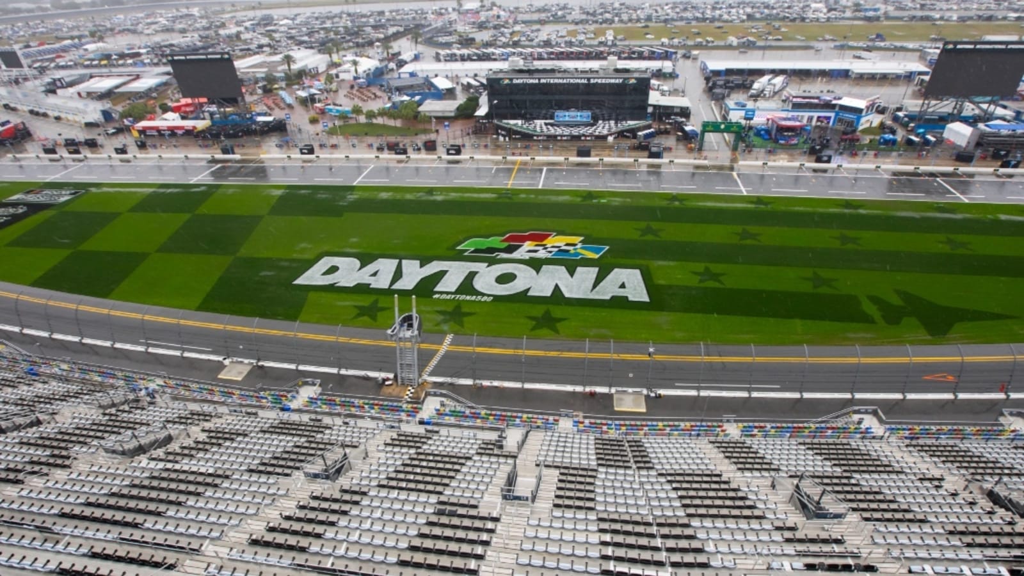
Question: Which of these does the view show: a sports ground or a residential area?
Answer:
sports ground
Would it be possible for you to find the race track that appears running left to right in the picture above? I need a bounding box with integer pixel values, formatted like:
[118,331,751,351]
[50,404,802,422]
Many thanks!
[0,286,1024,393]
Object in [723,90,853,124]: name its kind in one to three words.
building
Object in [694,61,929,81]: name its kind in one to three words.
building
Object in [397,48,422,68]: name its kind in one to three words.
vehicle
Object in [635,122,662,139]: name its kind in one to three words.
vehicle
